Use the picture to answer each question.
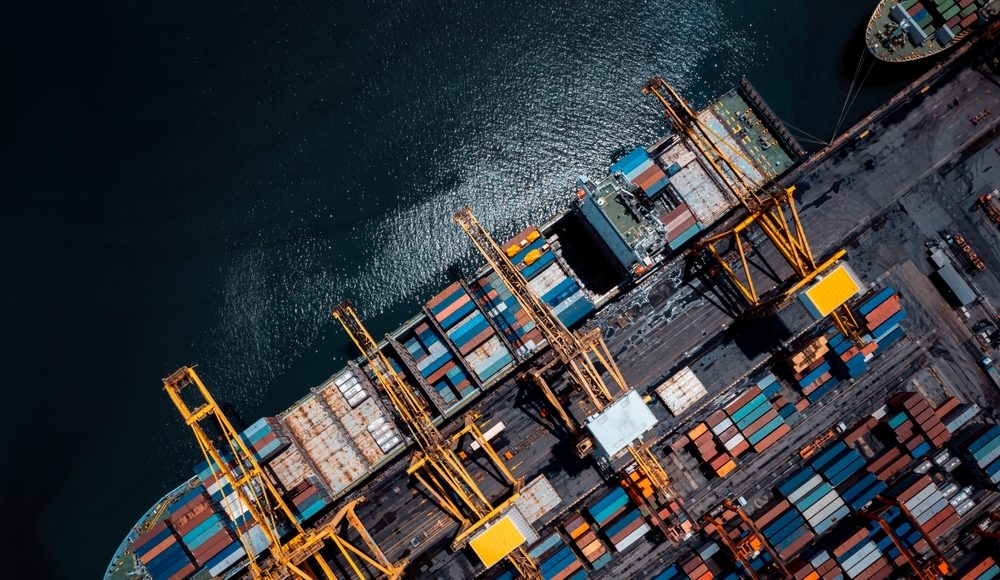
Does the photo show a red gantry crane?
Yes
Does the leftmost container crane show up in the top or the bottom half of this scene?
bottom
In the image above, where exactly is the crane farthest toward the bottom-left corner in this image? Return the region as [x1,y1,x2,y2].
[160,361,407,580]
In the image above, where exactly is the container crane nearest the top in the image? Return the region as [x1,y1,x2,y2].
[645,72,873,348]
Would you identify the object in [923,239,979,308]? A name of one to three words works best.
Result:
shed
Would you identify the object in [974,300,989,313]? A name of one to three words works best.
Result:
vehicle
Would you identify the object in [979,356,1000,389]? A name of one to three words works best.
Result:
truck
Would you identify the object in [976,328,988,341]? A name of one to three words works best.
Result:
vehicle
